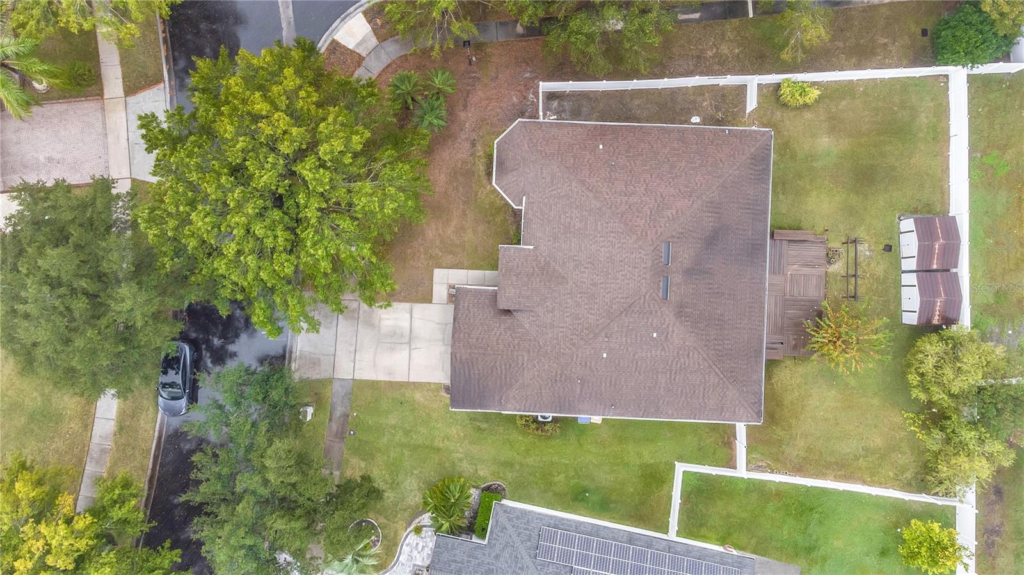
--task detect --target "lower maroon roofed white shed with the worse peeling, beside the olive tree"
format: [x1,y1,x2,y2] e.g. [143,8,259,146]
[900,271,966,325]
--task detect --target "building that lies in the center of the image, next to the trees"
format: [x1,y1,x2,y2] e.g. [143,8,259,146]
[449,118,774,425]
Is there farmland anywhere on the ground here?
No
